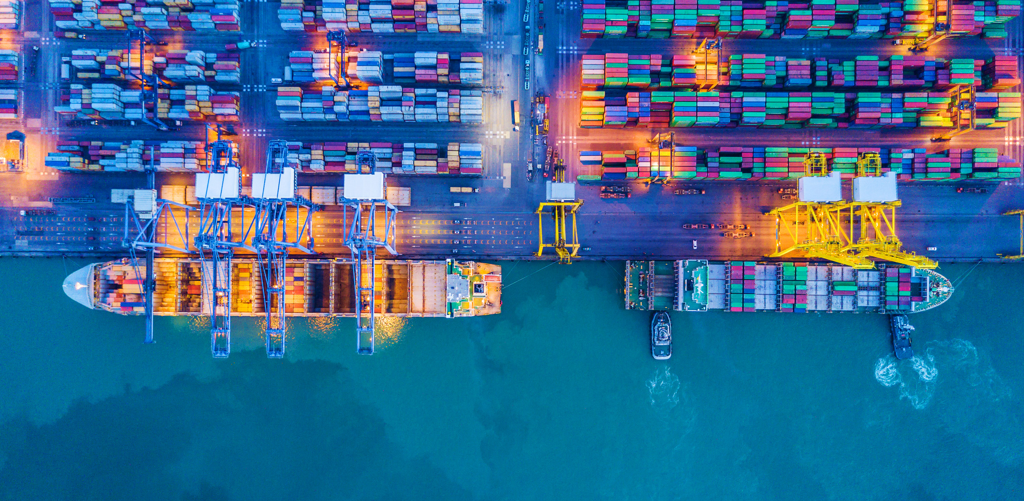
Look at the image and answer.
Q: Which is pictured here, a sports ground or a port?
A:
port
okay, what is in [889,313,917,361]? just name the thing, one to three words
boat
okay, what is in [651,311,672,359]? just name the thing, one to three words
boat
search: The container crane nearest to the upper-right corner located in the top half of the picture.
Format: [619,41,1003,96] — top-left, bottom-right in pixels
[910,0,951,52]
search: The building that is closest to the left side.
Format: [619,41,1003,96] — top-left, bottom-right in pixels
[0,139,32,168]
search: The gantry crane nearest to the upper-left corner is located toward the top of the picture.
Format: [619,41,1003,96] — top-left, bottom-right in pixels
[127,27,164,85]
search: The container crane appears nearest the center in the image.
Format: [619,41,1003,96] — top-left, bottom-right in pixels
[528,160,583,268]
